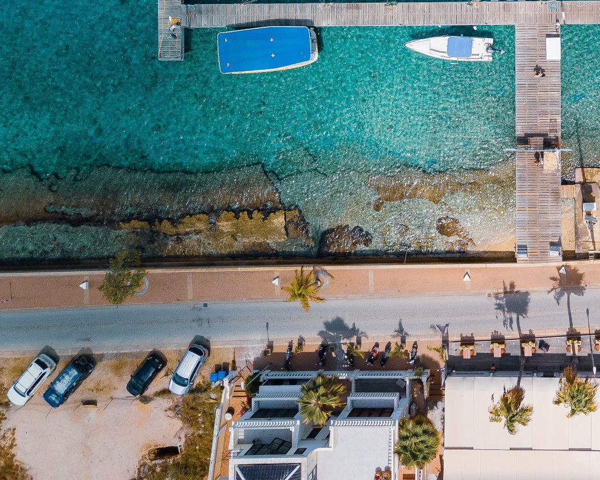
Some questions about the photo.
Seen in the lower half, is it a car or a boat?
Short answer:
car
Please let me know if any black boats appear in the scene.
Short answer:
No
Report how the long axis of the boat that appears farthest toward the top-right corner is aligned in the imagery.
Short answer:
horizontally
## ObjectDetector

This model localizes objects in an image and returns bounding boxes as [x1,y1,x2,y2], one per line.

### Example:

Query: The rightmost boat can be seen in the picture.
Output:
[404,34,504,64]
